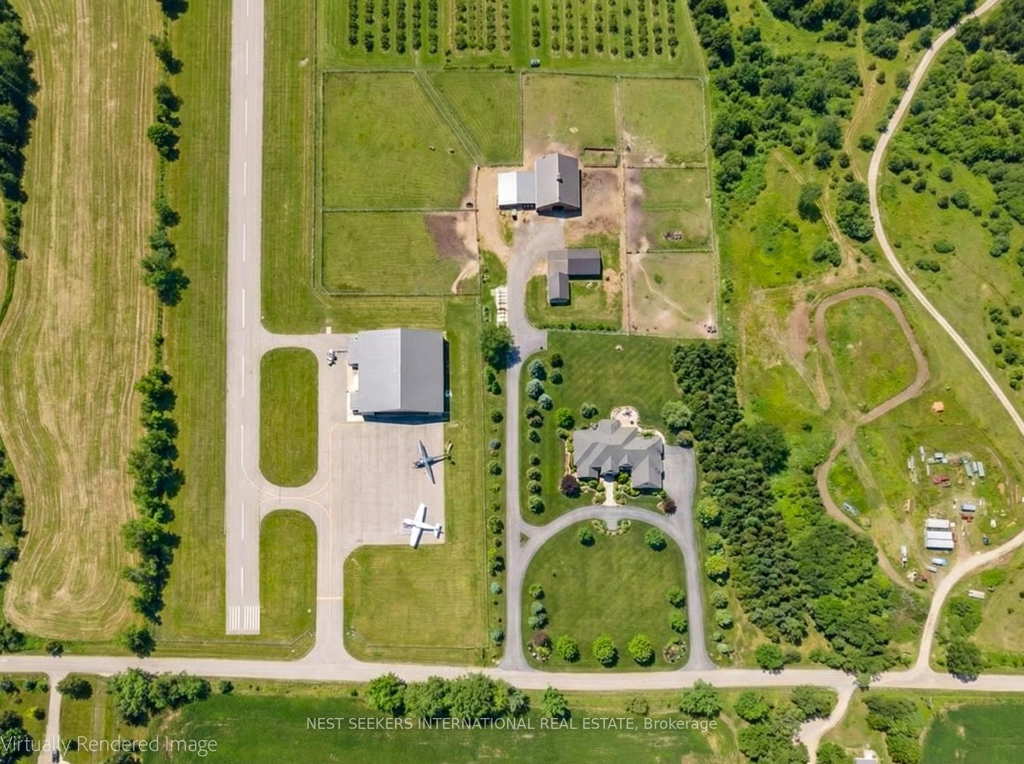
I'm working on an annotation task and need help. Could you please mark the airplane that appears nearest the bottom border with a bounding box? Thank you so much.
[403,504,441,547]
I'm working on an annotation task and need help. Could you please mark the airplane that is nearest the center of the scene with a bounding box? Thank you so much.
[415,440,455,485]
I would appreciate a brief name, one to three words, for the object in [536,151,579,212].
barn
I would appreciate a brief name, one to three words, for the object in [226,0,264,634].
runway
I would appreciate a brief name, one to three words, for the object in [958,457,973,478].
vehicle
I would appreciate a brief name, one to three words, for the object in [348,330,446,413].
hangar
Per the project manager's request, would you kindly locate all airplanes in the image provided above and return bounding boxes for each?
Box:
[415,440,455,485]
[403,504,441,547]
